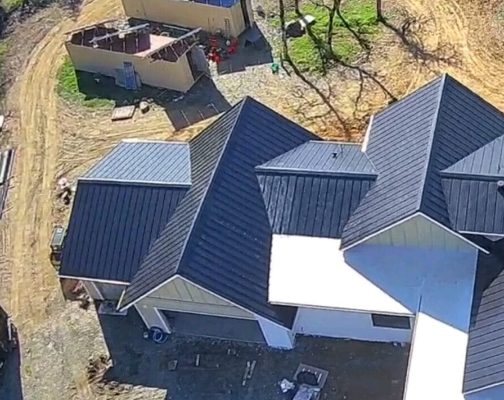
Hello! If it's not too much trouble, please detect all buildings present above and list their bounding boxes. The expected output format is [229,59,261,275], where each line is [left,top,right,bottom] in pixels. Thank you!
[122,0,255,36]
[57,73,504,400]
[64,15,215,91]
